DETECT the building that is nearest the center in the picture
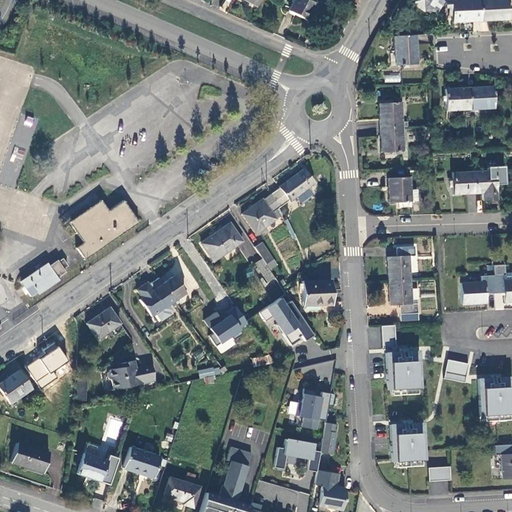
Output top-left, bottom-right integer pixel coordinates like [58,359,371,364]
[252,241,277,286]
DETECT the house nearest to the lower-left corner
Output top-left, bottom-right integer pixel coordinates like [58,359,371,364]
[12,442,52,475]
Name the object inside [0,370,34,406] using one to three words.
house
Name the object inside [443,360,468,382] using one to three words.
building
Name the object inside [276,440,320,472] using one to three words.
house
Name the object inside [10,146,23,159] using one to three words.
vehicle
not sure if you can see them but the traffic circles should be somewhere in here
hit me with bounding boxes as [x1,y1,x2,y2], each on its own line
[276,51,358,171]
